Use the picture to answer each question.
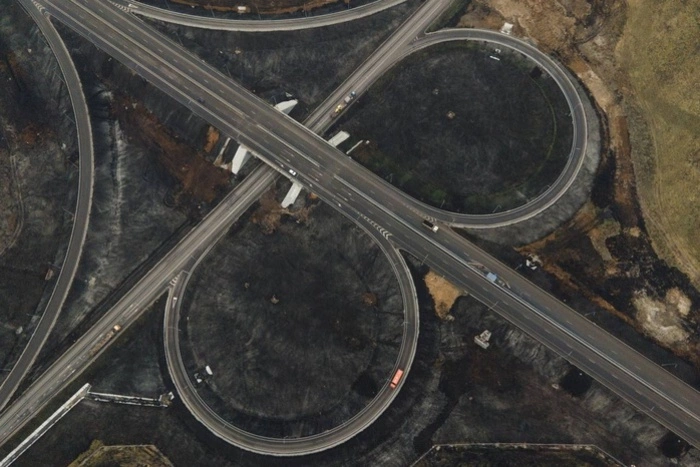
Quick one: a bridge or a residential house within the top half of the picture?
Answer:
bridge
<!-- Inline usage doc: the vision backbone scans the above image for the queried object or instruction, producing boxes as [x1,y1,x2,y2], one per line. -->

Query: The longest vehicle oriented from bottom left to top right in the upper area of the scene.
[329,90,357,118]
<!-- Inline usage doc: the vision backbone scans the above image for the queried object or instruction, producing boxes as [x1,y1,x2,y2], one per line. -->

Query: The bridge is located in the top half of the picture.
[232,99,350,208]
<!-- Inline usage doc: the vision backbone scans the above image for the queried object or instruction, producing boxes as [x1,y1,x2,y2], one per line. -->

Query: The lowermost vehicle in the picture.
[390,369,404,389]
